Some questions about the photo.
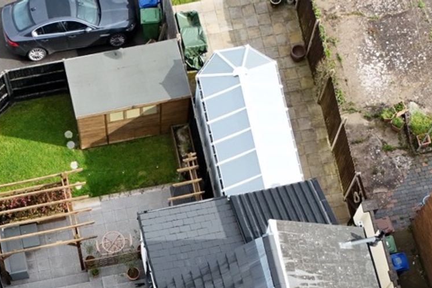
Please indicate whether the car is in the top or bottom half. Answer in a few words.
top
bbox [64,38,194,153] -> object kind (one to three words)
shed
